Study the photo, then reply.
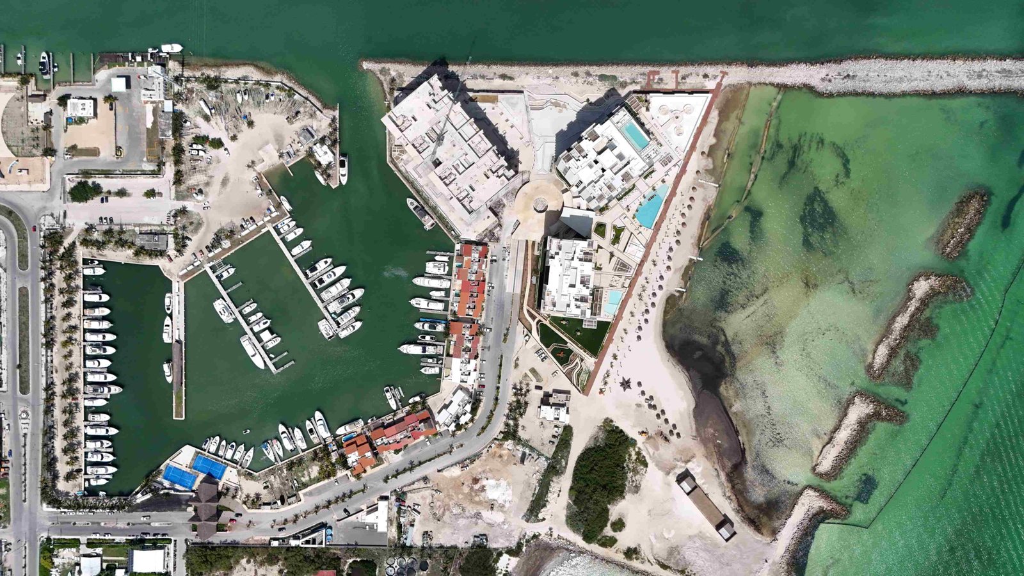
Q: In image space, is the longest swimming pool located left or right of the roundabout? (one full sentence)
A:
To the right of the roundabout is where the longest swimming pool appears.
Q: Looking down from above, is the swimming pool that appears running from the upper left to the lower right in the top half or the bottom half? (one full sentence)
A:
You can find the swimming pool that appears running from the upper left to the lower right in the top half.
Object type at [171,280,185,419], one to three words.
pier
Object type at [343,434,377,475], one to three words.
house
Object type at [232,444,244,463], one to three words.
boat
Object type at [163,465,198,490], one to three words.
tennis court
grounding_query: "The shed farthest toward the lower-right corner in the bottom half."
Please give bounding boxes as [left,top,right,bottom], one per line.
[677,472,734,540]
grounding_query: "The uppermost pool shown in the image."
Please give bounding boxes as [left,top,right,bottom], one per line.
[619,122,649,152]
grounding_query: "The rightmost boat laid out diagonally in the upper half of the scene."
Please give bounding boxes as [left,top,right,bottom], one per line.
[406,198,436,232]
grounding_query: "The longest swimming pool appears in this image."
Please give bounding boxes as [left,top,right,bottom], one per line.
[635,184,669,229]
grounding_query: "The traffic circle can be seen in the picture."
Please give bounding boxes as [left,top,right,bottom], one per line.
[511,179,563,241]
